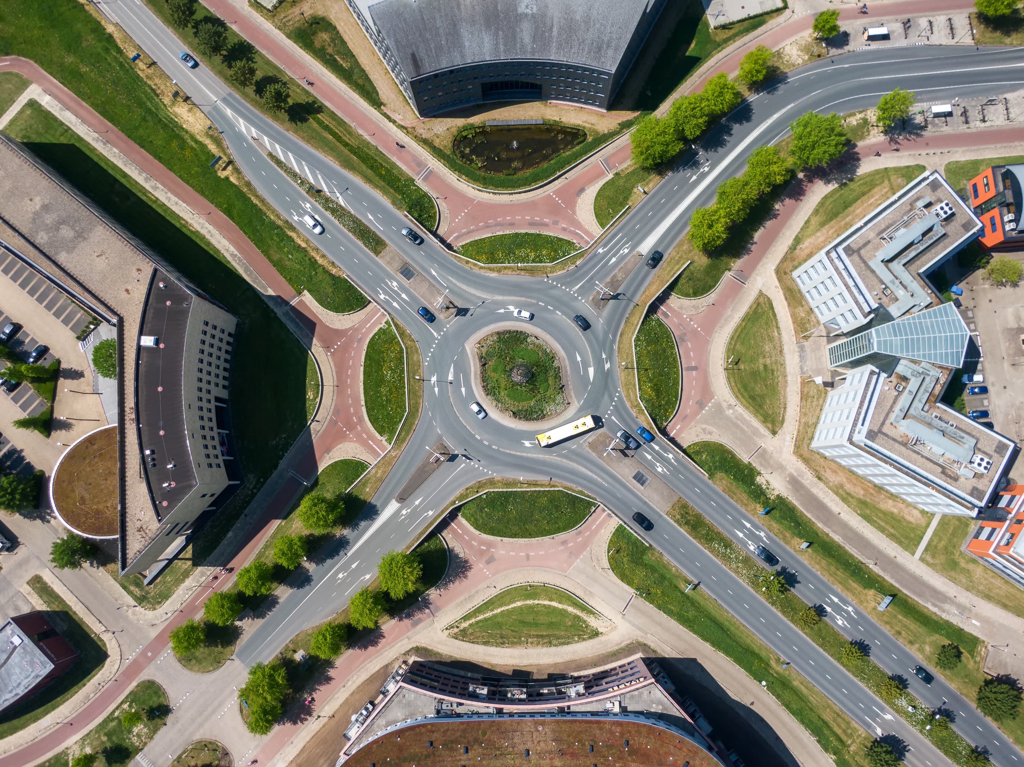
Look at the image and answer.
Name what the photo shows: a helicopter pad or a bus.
bus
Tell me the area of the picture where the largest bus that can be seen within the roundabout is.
center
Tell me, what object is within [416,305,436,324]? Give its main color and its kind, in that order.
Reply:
blue car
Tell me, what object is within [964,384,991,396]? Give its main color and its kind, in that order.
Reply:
blue vehicle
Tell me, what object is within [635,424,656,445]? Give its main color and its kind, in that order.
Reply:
blue car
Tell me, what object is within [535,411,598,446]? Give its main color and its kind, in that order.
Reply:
white bus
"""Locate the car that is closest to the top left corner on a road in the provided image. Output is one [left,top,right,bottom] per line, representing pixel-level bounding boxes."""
[180,50,197,69]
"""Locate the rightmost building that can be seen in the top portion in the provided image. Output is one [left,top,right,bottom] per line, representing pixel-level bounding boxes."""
[971,162,1024,251]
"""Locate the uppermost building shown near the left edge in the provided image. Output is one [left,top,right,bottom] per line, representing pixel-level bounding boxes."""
[0,132,241,586]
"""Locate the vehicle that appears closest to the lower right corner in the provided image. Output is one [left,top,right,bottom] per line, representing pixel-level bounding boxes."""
[912,664,936,686]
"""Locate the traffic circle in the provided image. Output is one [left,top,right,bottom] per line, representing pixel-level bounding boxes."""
[418,277,625,484]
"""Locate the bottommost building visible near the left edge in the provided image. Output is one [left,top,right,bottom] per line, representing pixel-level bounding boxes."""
[0,611,81,721]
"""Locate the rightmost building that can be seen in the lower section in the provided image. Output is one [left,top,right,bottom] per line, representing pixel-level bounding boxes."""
[966,464,1024,589]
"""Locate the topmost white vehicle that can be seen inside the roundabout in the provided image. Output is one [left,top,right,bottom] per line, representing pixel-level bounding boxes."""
[512,308,534,322]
